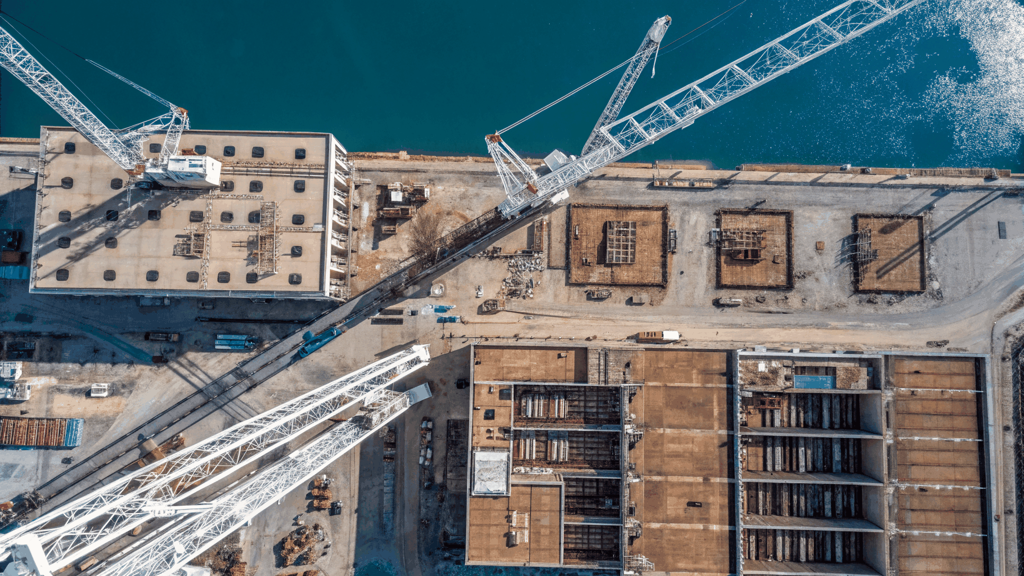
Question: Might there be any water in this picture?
Yes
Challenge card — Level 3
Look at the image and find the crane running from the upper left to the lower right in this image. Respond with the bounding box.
[0,13,220,206]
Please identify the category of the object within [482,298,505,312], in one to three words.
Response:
vehicle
